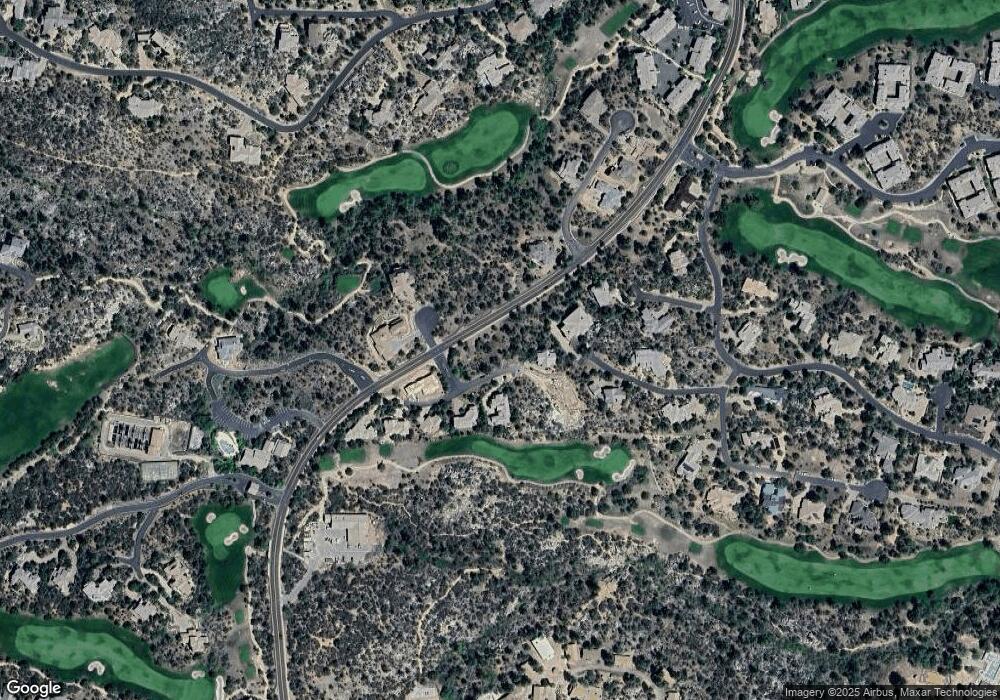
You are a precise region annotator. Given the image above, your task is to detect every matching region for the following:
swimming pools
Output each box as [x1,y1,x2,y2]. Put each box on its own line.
[215,431,238,457]
[898,377,918,391]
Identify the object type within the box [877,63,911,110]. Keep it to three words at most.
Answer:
building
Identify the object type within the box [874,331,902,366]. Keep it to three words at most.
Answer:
house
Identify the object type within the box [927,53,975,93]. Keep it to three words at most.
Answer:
building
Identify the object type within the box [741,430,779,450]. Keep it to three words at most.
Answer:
house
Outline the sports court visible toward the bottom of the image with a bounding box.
[142,461,178,481]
